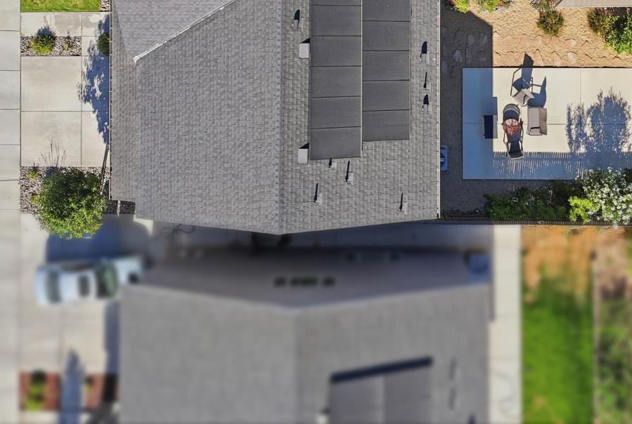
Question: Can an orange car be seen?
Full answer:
No, no orange car can be seen from above.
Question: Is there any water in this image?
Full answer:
No, water can't be seen anywhere here.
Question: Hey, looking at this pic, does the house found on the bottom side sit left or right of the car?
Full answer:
Looking at the picture, you'll find the house found on the bottom side to the right of the car.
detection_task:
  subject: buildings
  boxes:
[108,0,443,234]
[116,249,494,424]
